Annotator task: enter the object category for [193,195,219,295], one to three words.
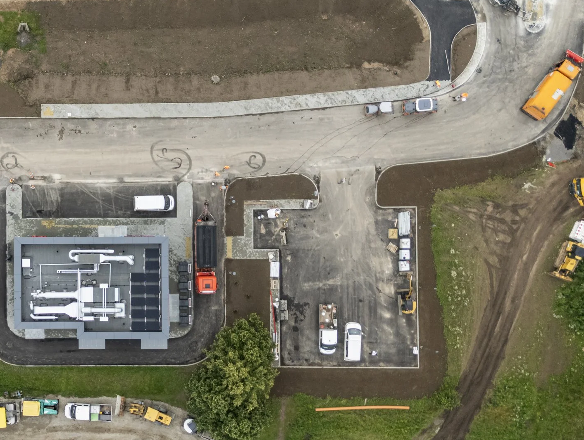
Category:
truck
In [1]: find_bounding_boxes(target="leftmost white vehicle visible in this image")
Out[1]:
[66,403,112,423]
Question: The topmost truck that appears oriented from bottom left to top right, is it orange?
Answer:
Yes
